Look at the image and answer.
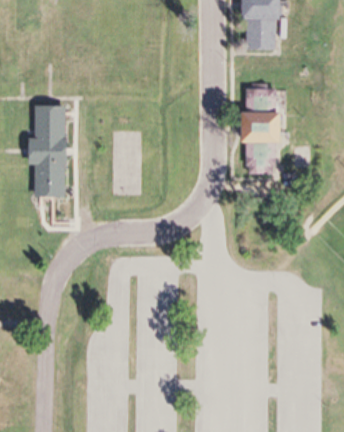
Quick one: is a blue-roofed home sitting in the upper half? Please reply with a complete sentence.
No, in the upper half there is no blue-roofed home.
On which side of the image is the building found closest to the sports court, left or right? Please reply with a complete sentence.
The building found closest to the sports court is on the left side of the image.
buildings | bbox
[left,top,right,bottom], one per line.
[28,105,67,196]
[242,0,288,50]
[241,82,280,174]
